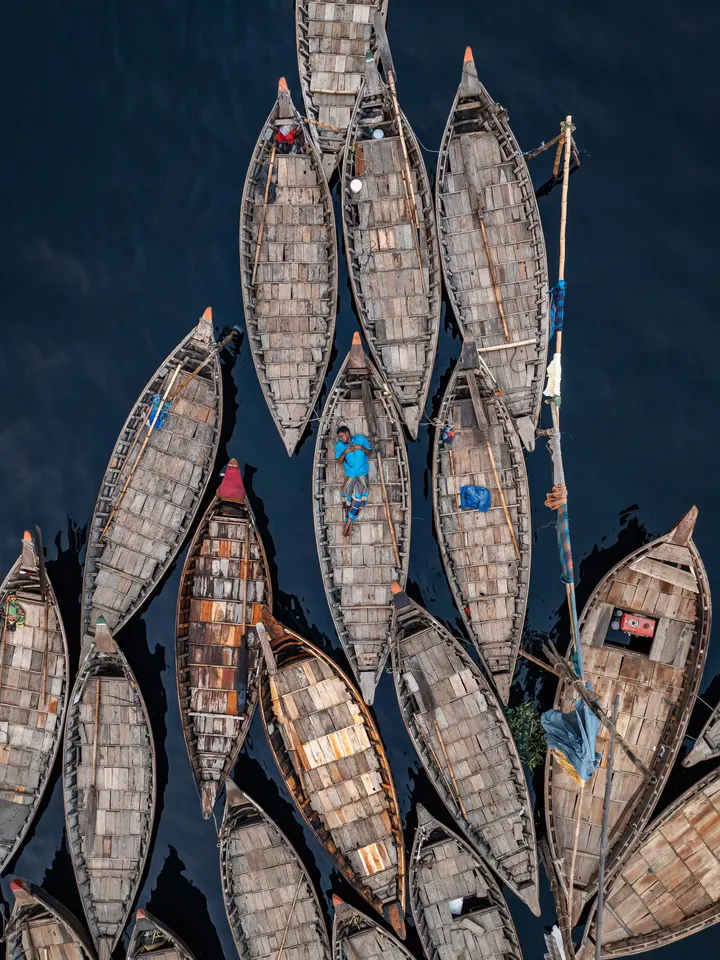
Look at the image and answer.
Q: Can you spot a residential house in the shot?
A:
No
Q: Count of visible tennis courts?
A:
0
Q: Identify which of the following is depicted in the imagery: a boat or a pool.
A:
boat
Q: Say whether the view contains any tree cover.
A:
No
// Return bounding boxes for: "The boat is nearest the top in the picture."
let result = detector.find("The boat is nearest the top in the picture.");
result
[289,0,390,189]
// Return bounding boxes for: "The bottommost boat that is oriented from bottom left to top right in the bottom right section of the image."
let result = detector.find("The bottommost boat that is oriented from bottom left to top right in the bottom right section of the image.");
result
[575,763,720,960]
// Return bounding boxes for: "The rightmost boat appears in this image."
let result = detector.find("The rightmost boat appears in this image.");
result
[678,664,720,768]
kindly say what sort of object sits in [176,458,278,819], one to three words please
boat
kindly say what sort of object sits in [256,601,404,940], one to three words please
boat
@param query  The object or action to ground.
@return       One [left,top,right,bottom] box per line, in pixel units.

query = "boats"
[63,615,162,959]
[432,47,548,453]
[387,578,541,919]
[82,307,228,669]
[176,458,278,819]
[125,903,195,960]
[214,773,338,960]
[335,52,442,441]
[575,763,720,960]
[678,664,720,768]
[427,334,532,707]
[289,0,390,189]
[401,799,523,960]
[325,889,417,960]
[0,877,101,960]
[256,601,404,940]
[311,331,413,706]
[546,505,715,931]
[0,531,75,874]
[238,79,340,457]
